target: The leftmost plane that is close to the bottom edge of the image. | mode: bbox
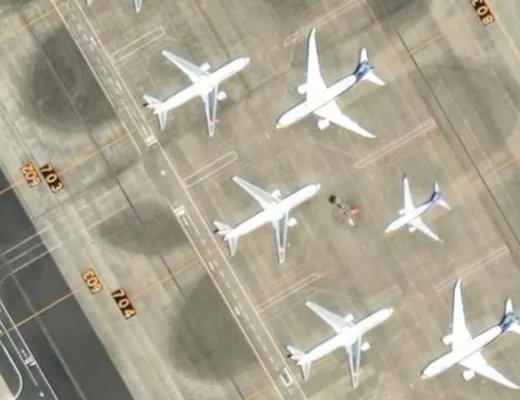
[286,302,393,387]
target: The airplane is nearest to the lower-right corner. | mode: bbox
[422,278,520,387]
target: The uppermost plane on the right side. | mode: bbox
[277,29,386,136]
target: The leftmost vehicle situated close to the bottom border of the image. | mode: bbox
[279,369,292,385]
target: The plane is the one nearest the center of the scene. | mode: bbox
[215,178,320,262]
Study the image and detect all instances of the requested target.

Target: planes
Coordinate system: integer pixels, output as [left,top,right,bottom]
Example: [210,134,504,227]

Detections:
[286,302,393,387]
[422,278,520,387]
[277,29,386,136]
[144,52,249,134]
[215,178,320,262]
[386,173,452,239]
